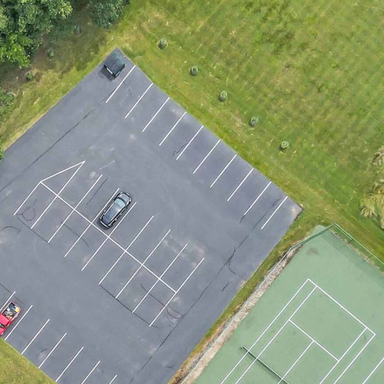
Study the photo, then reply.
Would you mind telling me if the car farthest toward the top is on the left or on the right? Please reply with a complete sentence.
The car farthest toward the top is on the left side of the image.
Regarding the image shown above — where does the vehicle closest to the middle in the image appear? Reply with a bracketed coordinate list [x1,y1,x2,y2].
[102,190,134,229]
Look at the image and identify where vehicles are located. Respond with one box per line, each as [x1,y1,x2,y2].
[0,300,22,338]
[102,48,129,80]
[102,190,134,229]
